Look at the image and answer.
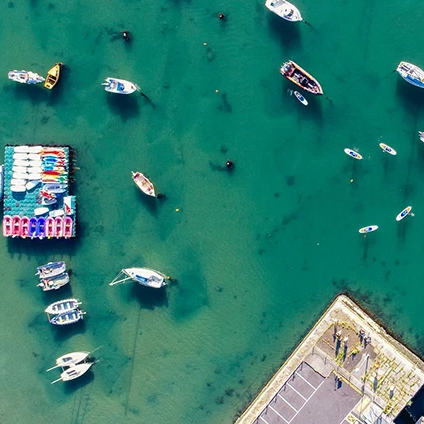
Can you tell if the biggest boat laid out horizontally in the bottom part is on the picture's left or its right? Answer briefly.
left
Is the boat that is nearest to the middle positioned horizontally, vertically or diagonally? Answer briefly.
diagonally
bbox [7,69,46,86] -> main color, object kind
white boat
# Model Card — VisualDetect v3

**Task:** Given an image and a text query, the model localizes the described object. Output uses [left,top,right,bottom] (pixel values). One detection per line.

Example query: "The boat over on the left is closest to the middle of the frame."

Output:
[130,172,162,200]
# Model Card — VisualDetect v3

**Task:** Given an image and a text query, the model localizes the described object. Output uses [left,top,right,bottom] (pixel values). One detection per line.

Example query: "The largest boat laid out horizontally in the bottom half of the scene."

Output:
[106,268,172,288]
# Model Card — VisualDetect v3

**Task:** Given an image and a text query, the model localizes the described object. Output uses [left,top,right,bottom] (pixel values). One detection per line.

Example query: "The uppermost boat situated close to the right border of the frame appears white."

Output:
[397,61,424,90]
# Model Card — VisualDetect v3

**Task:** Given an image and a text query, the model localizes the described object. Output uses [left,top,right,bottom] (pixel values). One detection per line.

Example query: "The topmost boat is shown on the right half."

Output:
[265,0,320,35]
